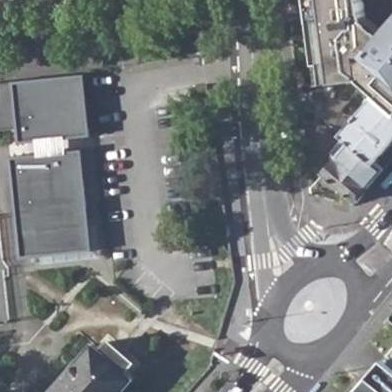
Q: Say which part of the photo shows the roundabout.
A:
bottom right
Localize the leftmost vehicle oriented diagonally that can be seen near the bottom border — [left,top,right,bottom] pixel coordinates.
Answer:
[240,366,259,386]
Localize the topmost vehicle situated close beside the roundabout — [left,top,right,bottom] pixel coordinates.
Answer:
[378,211,392,230]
